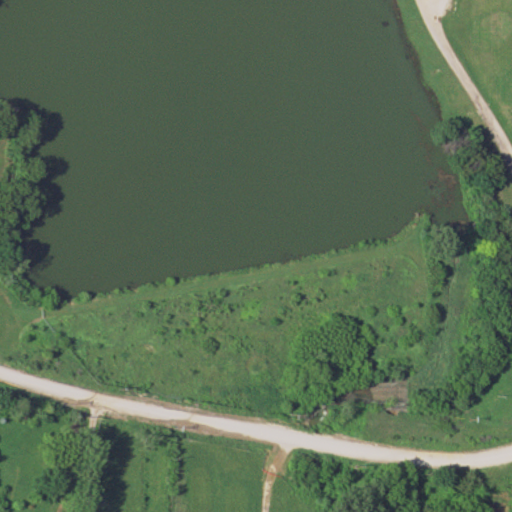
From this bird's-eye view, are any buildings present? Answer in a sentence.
No, I can't see a single building in this photo.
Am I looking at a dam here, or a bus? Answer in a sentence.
I can see a dam in this picture.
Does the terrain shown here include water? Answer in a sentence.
Yes, there's water in this view.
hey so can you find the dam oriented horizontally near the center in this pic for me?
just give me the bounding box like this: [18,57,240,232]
[45,234,408,330]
